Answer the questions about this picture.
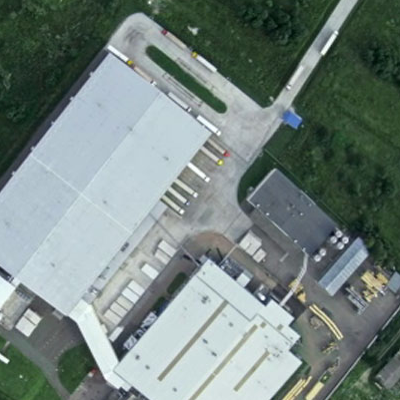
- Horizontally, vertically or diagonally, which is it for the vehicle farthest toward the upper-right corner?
diagonally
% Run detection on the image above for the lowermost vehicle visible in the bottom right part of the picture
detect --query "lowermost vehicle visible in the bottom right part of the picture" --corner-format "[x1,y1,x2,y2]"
[305,376,328,400]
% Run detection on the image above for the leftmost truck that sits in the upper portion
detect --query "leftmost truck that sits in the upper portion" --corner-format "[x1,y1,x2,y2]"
[109,44,134,67]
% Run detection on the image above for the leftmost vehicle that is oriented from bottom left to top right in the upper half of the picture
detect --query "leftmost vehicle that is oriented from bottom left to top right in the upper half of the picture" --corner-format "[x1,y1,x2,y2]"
[286,64,305,90]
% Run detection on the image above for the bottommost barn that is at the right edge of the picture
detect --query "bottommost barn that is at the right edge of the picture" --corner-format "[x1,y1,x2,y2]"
[376,358,400,388]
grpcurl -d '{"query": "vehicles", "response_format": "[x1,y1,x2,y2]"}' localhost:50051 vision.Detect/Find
[191,51,218,73]
[109,44,134,67]
[200,145,225,166]
[206,137,230,158]
[326,340,338,352]
[186,162,211,184]
[167,91,192,113]
[319,30,340,55]
[161,28,188,51]
[305,376,328,400]
[132,64,156,86]
[286,64,305,90]
[168,186,192,207]
[174,178,200,199]
[161,195,185,215]
[196,114,223,137]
